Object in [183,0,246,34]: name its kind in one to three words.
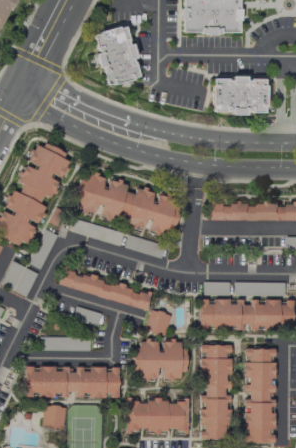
building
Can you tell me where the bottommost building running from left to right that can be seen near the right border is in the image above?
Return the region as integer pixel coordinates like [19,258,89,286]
[202,298,296,331]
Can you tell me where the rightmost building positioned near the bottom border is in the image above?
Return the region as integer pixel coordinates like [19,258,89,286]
[244,348,278,444]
